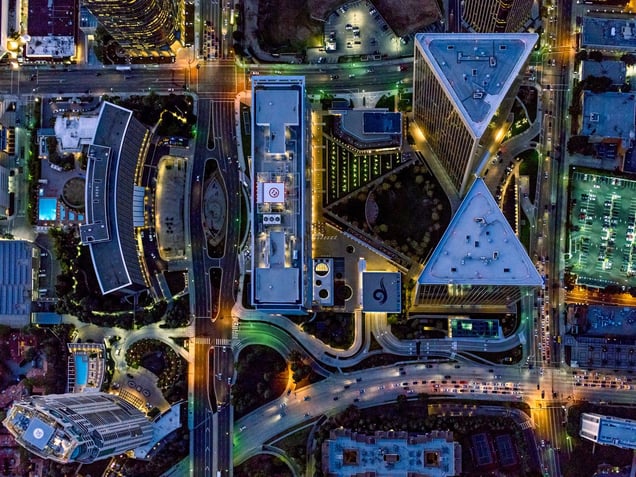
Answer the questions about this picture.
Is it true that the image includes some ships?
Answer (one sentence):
No, there's no ship here.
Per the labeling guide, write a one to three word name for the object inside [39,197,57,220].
swimming pool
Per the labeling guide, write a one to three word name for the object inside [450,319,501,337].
building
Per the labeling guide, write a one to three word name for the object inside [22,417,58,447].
helipad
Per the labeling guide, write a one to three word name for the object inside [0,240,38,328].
building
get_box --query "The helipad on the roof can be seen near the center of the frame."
[263,182,285,204]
